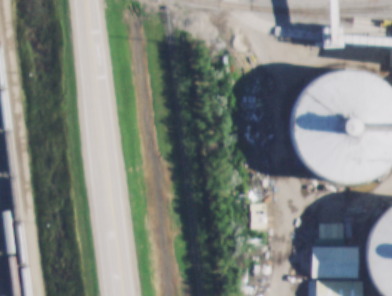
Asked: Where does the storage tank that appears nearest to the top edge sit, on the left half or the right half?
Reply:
right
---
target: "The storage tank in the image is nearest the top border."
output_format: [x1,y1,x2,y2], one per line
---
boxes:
[288,67,392,184]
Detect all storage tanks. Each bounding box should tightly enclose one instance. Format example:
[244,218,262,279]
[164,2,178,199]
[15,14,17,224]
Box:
[362,204,392,296]
[288,67,392,184]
